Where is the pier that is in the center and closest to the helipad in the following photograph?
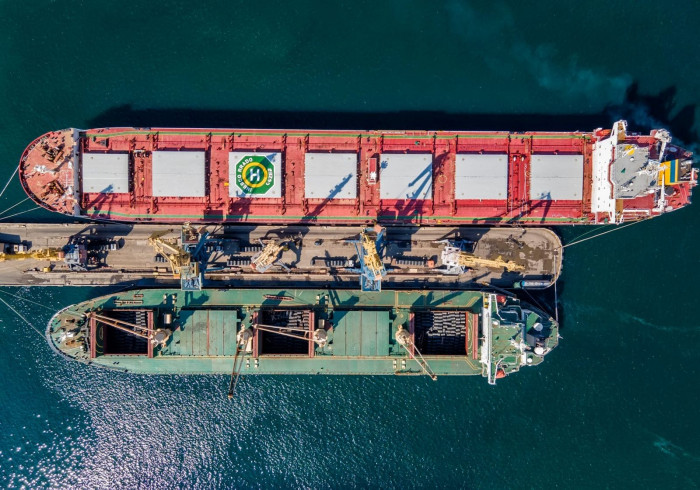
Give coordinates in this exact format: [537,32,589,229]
[0,220,565,292]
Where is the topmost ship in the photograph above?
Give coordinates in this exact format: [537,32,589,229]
[17,120,699,224]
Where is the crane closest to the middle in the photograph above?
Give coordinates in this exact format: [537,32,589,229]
[341,224,402,291]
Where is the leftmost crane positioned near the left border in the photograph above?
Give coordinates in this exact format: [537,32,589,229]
[0,239,112,272]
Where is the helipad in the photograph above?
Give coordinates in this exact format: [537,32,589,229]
[236,155,275,194]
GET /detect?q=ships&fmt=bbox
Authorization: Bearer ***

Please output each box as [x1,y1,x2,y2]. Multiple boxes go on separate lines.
[17,120,699,224]
[45,288,564,400]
